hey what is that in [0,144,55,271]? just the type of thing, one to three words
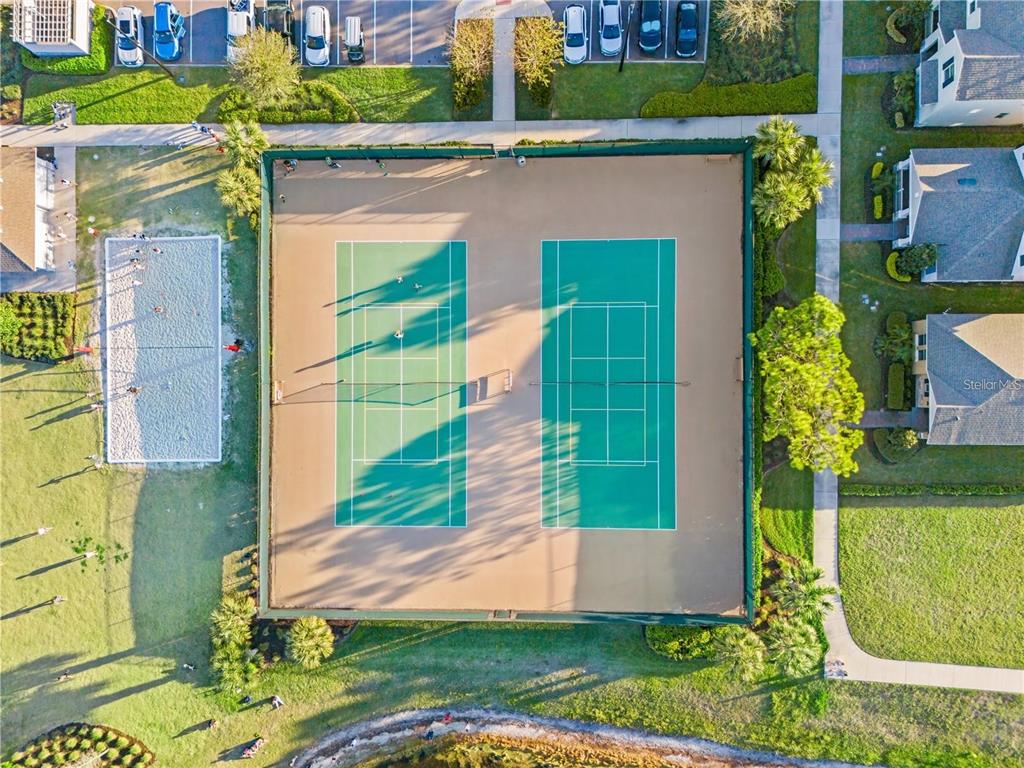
building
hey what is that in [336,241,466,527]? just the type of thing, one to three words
tennis court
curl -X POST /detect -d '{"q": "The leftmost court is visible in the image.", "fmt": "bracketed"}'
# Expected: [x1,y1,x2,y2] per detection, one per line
[104,236,222,463]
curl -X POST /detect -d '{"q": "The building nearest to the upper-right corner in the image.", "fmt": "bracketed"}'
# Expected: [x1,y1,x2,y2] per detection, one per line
[915,0,1024,125]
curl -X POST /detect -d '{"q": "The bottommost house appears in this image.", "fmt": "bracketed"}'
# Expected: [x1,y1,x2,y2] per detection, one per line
[912,310,1024,445]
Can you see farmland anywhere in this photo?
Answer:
No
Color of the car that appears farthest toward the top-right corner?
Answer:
blue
